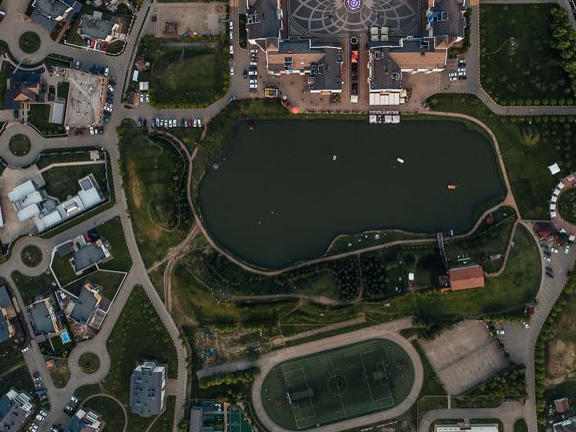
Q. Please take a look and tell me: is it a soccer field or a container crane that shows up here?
soccer field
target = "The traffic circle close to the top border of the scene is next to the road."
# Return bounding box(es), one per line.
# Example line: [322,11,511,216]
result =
[10,21,51,62]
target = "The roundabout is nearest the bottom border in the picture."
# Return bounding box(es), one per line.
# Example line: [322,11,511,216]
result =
[69,342,109,383]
